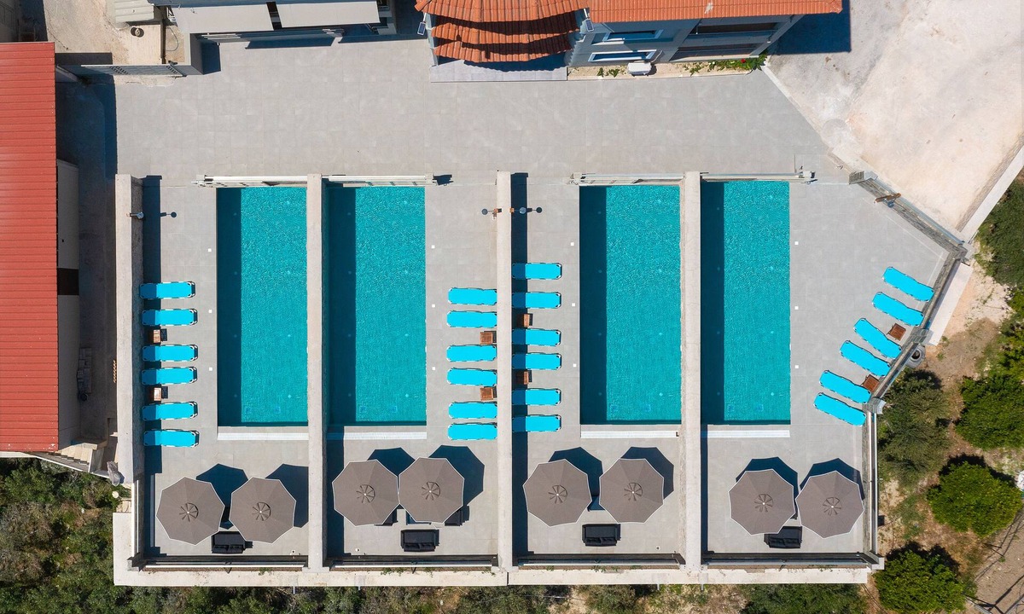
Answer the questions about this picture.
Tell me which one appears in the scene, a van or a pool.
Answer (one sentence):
There is a pool in the scene.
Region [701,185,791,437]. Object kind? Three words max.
swimming pool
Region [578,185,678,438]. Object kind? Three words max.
swimming pool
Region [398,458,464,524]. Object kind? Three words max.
umbrella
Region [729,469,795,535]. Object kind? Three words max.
umbrella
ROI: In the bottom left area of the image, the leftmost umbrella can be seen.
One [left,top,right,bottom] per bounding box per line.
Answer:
[156,476,225,545]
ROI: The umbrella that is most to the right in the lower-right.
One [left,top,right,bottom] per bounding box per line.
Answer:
[796,470,864,539]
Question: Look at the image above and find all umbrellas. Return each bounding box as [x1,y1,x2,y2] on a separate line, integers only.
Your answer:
[333,460,399,526]
[398,458,464,524]
[796,470,864,539]
[599,459,664,524]
[729,469,795,535]
[524,459,591,526]
[156,476,225,545]
[229,477,295,544]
